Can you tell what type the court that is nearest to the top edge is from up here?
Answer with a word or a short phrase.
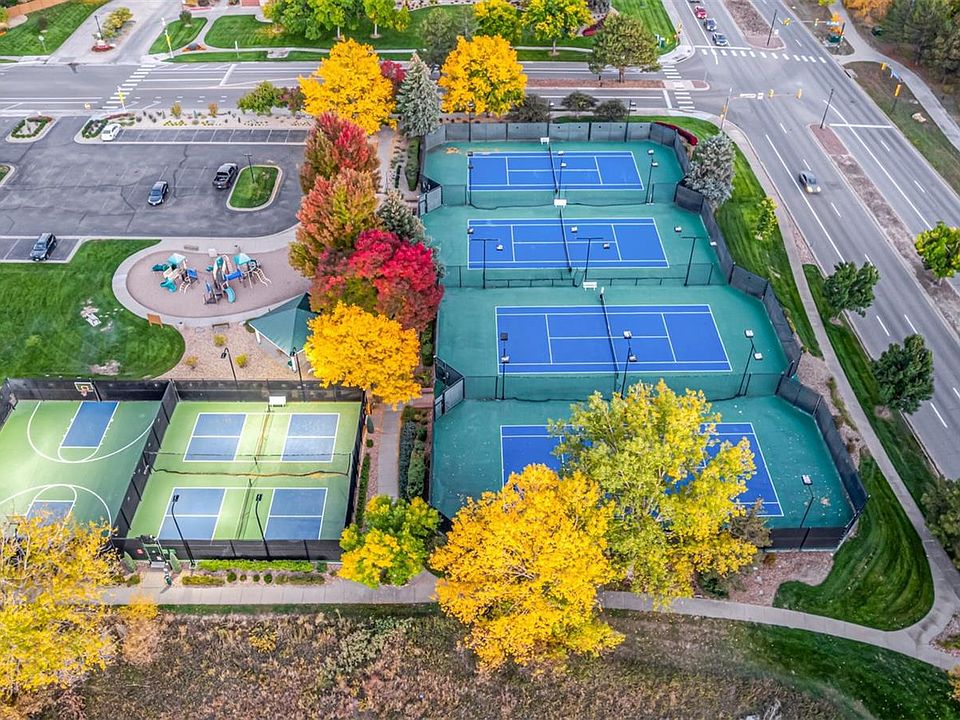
tennis court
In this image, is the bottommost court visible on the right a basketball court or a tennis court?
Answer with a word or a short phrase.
tennis court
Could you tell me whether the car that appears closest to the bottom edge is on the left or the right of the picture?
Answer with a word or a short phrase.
left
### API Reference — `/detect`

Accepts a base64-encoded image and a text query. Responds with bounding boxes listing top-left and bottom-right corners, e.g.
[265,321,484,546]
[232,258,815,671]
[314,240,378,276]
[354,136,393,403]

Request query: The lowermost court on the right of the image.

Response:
[432,395,857,529]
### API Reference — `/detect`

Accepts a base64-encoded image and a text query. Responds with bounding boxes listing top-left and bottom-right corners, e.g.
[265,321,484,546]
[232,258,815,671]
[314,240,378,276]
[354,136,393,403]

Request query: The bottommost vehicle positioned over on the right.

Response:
[799,172,821,194]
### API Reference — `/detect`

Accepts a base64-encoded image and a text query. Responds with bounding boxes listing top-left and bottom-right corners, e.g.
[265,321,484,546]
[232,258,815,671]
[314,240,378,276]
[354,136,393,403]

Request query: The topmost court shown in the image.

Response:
[427,141,685,205]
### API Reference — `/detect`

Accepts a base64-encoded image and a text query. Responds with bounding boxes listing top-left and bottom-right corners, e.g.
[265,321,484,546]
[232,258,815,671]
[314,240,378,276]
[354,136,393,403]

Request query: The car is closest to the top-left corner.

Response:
[98,125,120,141]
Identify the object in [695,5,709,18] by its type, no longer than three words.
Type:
vehicle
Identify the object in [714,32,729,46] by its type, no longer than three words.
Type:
car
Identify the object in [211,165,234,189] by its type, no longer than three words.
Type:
truck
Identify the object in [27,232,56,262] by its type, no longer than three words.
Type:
car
